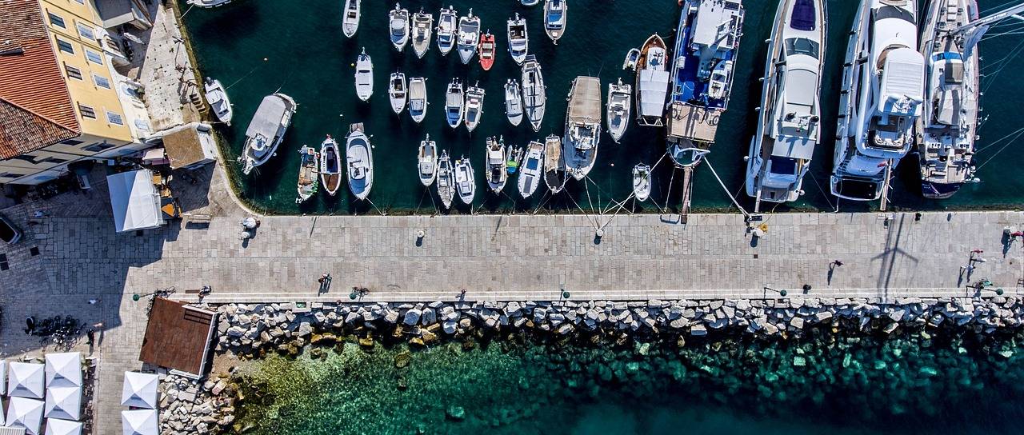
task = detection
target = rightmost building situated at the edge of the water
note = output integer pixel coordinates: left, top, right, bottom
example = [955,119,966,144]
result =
[146,123,229,172]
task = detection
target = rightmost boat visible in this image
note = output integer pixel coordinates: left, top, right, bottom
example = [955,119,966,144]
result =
[914,0,1024,199]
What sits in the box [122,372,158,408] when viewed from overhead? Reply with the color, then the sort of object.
white umbrella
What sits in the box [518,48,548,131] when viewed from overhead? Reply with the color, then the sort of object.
white boat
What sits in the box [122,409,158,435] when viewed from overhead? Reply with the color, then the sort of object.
white umbrella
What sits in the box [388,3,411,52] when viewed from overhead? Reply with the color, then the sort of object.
white boat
